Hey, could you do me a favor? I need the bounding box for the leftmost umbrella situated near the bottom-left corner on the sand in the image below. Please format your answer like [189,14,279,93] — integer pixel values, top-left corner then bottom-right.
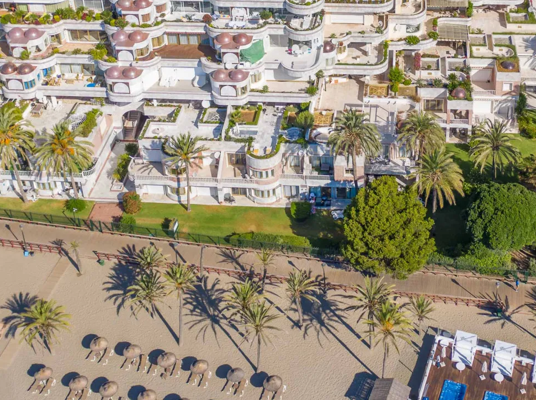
[34,368,56,389]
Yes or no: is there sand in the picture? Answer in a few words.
Yes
